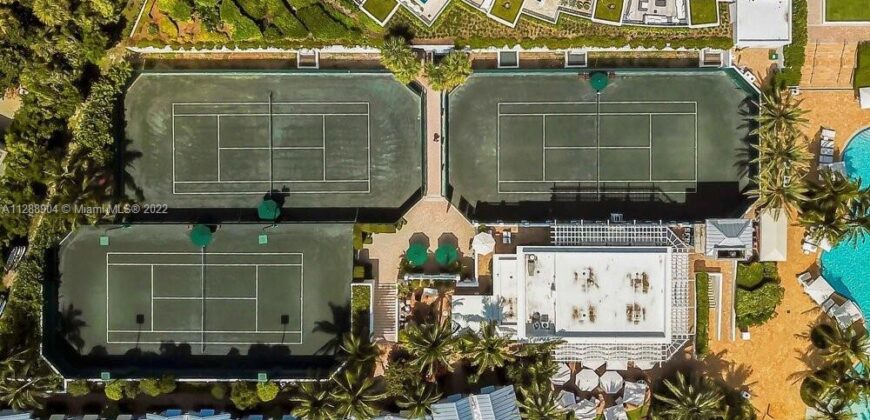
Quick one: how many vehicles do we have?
0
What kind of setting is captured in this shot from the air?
sports ground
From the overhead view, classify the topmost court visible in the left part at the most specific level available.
tennis court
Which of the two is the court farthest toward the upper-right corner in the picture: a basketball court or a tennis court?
tennis court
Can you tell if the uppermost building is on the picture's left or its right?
right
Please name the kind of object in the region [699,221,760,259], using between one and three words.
building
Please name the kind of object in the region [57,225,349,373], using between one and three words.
tennis court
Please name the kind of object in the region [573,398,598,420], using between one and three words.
umbrella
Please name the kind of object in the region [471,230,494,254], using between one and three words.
umbrella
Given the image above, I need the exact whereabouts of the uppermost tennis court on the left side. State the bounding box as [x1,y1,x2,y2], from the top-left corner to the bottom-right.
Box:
[125,74,421,222]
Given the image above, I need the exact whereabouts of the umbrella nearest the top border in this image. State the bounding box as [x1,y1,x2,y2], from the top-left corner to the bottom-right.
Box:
[587,71,608,92]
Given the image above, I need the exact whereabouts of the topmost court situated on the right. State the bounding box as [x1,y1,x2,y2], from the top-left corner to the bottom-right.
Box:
[448,74,749,222]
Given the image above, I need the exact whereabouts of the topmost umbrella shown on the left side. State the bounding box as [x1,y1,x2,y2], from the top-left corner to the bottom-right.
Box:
[257,200,280,220]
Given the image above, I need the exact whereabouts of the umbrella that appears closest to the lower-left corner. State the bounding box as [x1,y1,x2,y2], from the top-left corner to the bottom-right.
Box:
[190,225,213,247]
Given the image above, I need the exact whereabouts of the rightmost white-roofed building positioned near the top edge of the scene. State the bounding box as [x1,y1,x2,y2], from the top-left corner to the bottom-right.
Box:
[732,0,793,46]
